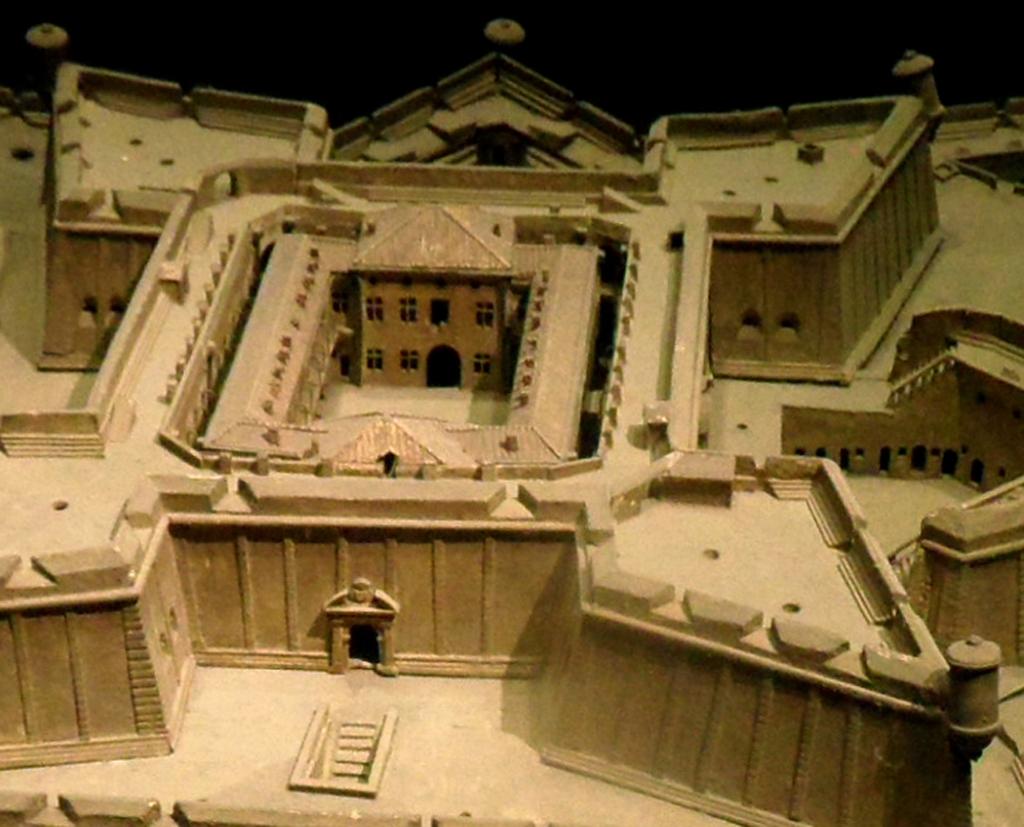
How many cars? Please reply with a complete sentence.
There are no cars in the image.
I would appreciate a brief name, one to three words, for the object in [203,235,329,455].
building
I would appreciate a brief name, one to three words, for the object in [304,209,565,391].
building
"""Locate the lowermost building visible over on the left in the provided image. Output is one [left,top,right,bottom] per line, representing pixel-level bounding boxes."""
[203,414,564,468]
